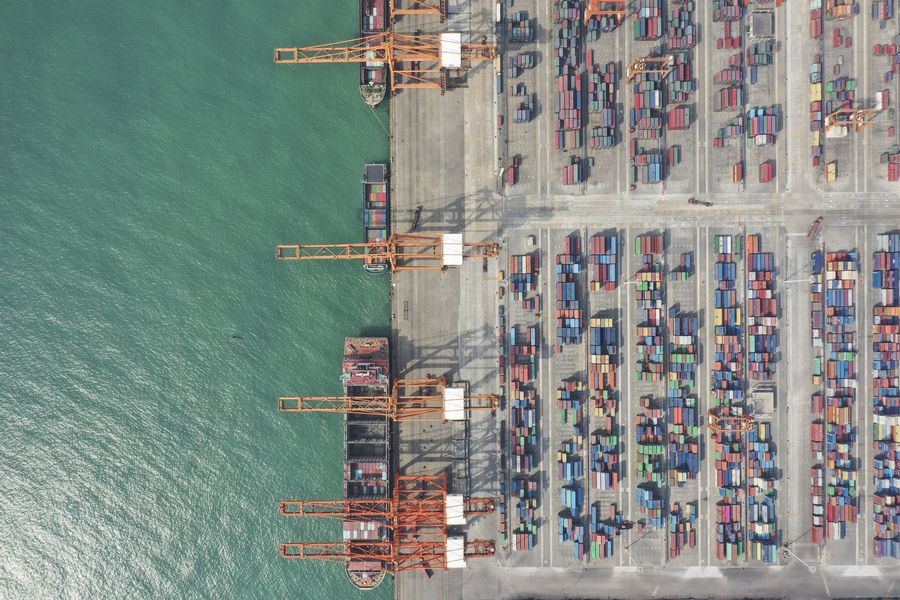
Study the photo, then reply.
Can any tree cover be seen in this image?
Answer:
No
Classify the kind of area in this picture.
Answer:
port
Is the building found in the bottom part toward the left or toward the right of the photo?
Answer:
right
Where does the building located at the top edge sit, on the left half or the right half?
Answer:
right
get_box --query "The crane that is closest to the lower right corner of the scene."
[705,409,756,431]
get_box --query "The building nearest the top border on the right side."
[744,12,773,43]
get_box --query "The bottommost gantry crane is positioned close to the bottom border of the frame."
[278,504,503,575]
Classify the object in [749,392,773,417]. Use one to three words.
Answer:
building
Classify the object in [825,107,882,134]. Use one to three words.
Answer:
container crane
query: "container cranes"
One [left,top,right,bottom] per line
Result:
[275,227,499,281]
[273,25,497,101]
[277,365,501,424]
[278,460,502,530]
[627,56,674,85]
[584,0,628,28]
[388,0,445,29]
[825,107,882,134]
[278,504,503,575]
[705,409,756,431]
